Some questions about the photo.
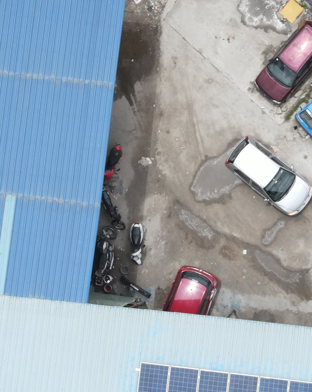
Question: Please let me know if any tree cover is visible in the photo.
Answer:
No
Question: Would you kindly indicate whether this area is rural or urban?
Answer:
urban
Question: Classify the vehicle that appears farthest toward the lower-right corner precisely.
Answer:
automobile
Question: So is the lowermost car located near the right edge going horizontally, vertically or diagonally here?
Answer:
diagonally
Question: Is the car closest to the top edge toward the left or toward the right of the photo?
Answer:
right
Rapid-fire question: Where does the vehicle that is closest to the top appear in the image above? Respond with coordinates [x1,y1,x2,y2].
[256,18,312,104]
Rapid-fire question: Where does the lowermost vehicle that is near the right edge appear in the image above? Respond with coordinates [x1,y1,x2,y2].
[225,136,310,213]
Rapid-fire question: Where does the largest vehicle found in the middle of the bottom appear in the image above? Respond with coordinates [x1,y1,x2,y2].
[161,261,216,314]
